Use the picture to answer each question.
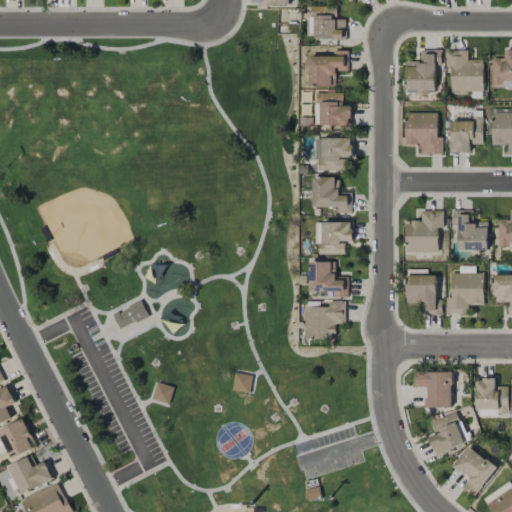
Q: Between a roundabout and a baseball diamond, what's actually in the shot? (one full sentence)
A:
There is a baseball diamond in the scene.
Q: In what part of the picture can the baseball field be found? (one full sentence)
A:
The baseball field appears toward the left of the photo.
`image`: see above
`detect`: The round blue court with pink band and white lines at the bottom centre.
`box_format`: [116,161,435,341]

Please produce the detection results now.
[216,422,254,460]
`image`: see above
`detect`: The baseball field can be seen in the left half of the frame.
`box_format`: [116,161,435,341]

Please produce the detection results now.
[38,186,133,266]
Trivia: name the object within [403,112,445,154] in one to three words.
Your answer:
house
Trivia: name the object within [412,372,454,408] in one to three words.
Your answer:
house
